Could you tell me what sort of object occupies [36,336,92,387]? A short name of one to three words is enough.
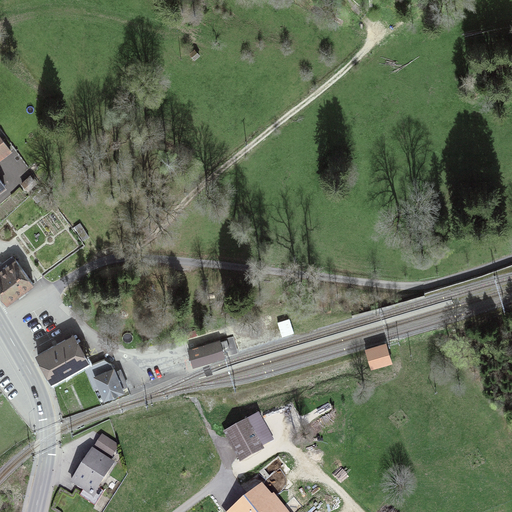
house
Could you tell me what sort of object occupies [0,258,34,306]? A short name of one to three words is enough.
house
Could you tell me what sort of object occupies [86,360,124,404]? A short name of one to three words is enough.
building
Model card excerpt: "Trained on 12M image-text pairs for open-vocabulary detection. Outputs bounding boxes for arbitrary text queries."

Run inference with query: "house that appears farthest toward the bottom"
[228,482,290,512]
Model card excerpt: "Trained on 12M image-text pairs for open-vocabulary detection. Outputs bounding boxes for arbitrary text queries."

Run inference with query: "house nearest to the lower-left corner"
[72,446,114,496]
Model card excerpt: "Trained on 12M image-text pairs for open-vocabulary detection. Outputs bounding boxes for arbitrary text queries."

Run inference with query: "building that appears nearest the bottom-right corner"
[366,344,392,370]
